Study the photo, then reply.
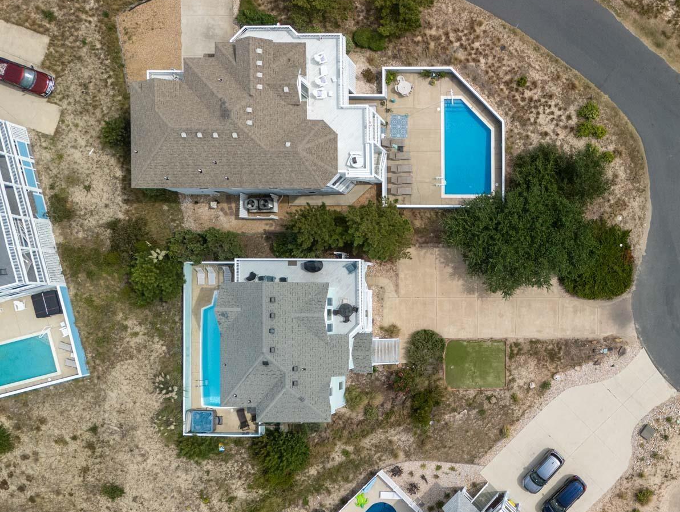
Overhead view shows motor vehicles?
Yes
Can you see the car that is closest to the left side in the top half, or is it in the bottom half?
top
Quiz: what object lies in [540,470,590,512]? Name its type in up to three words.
car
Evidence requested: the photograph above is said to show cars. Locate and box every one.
[540,470,590,512]
[0,59,60,97]
[521,445,566,495]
